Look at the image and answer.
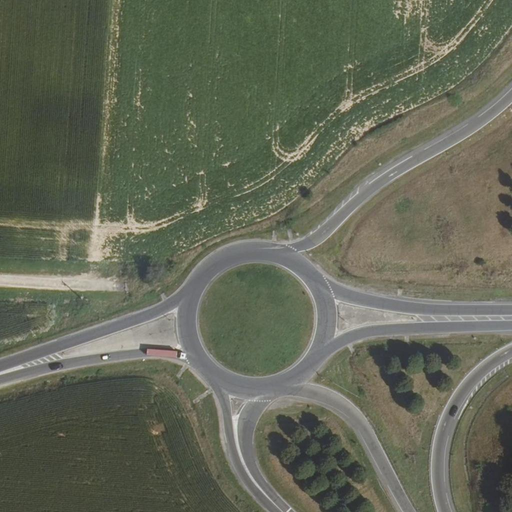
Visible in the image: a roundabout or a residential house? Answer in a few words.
roundabout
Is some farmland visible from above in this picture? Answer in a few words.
Yes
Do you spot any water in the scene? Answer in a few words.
No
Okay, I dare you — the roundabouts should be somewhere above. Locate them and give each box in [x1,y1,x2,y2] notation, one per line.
[176,239,336,400]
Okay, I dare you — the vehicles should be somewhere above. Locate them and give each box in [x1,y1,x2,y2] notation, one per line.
[49,363,62,369]
[100,354,108,360]
[146,349,186,358]
[450,405,458,416]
